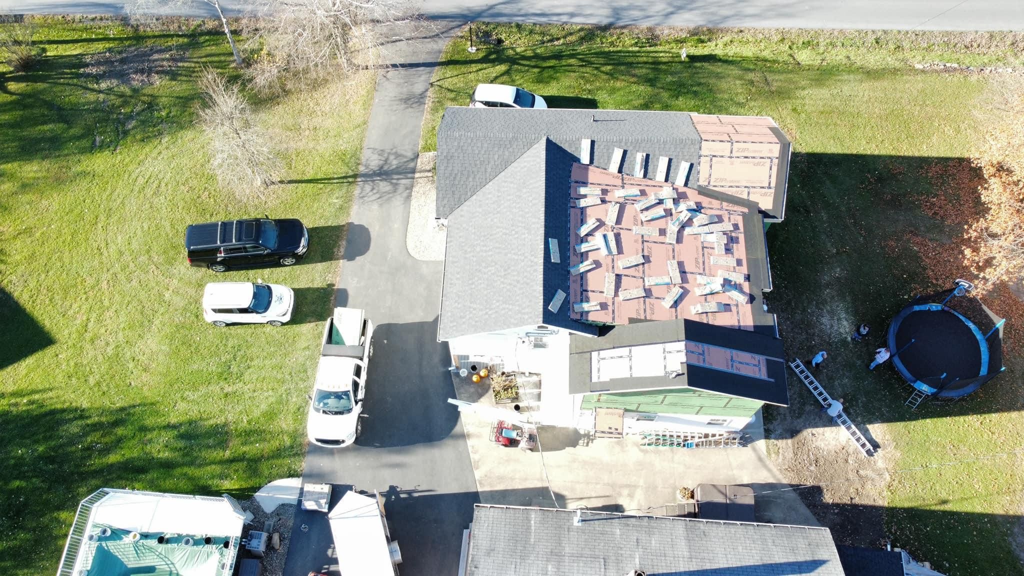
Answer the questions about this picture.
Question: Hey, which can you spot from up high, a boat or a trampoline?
trampoline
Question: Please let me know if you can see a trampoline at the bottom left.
No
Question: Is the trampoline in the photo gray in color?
No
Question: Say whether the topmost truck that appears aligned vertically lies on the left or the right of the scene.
left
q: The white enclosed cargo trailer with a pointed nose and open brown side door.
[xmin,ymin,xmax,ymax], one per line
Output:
[327,469,413,576]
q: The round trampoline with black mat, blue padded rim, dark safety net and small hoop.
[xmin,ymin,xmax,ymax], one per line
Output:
[876,273,1013,411]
